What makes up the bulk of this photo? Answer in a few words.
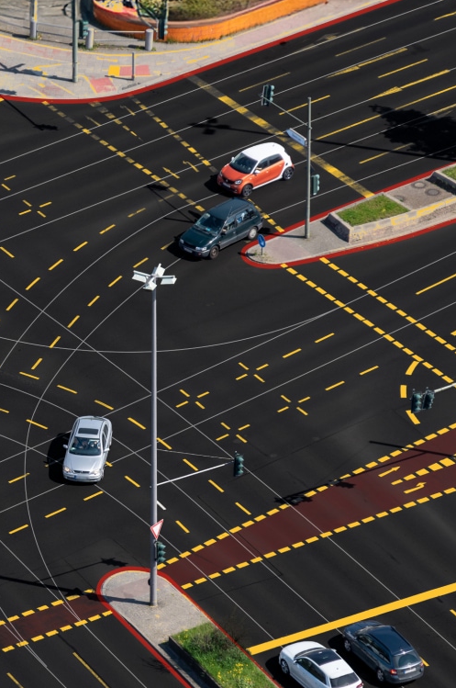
paved ground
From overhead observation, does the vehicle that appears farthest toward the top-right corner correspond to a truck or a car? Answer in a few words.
car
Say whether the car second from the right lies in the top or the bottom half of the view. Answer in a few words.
bottom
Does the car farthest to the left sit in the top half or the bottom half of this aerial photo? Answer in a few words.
bottom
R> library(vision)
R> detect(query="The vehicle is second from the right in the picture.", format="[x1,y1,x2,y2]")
[281,644,362,688]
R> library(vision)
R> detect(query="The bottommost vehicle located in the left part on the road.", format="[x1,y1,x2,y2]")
[61,418,111,481]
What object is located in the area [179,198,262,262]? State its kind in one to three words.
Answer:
car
